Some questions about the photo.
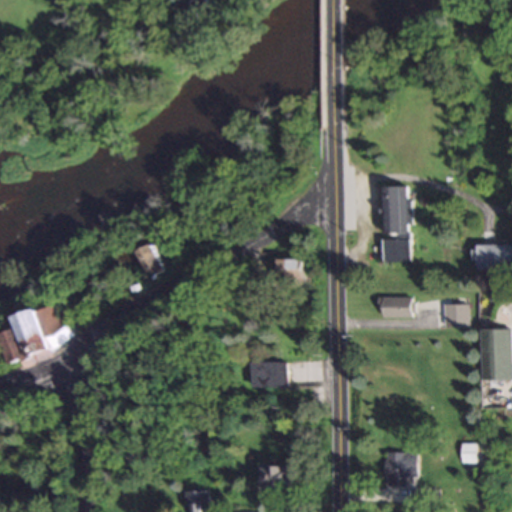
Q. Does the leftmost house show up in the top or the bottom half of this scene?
bottom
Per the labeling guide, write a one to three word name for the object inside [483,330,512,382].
building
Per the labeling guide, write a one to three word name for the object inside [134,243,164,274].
house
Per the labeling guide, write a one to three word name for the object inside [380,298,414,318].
house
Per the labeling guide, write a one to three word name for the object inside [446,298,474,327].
building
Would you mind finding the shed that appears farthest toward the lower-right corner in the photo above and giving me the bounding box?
[462,444,482,466]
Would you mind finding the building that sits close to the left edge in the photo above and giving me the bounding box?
[0,306,74,369]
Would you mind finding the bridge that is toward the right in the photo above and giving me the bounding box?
[320,0,349,128]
